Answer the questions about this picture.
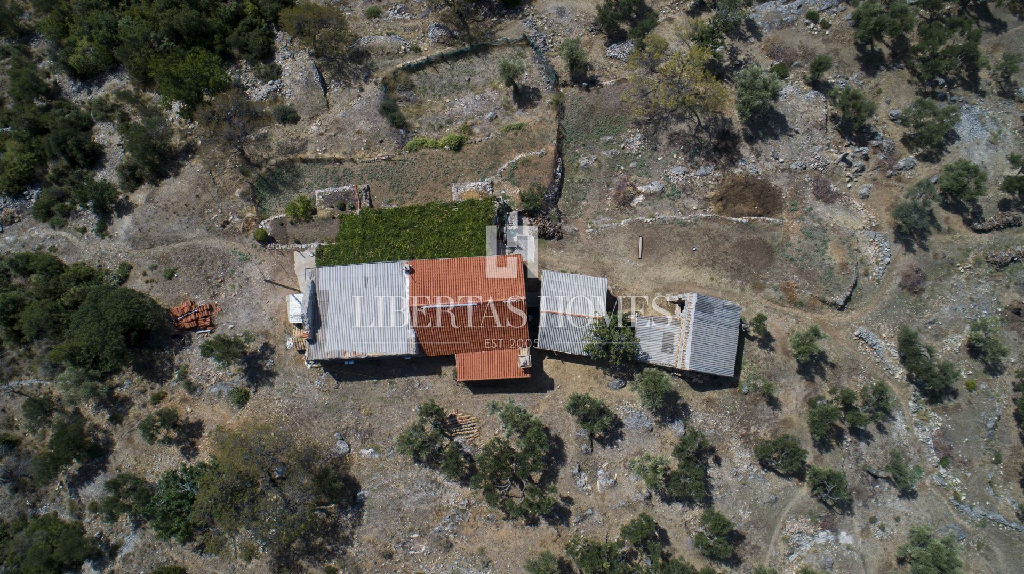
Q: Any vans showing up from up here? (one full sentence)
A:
No, no van is visible in the view.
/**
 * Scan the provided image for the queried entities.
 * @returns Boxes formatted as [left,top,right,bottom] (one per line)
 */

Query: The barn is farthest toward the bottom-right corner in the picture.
[628,293,742,377]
